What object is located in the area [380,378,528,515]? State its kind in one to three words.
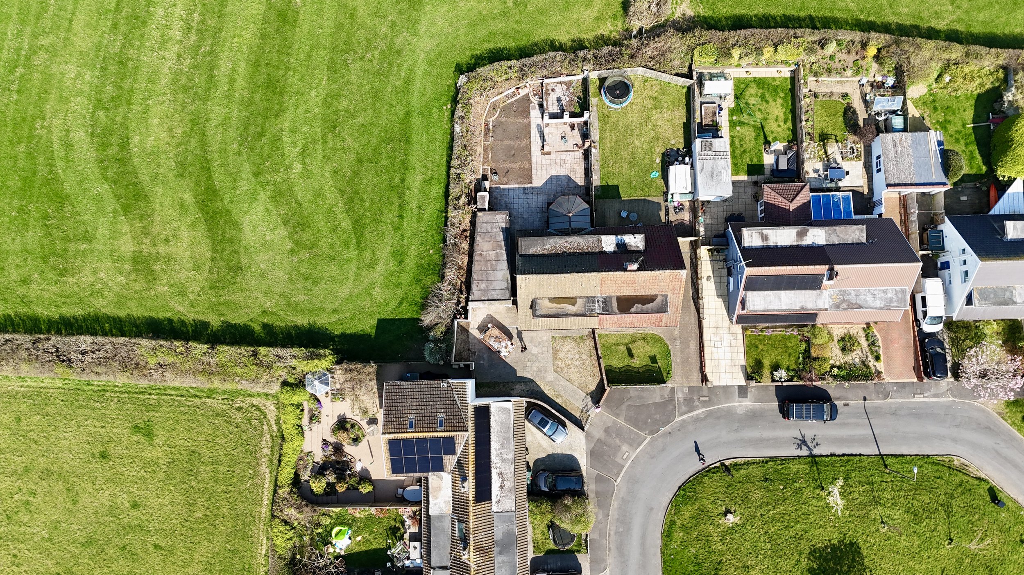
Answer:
house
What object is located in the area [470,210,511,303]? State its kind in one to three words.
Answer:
building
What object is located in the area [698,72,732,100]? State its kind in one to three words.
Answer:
greenhouse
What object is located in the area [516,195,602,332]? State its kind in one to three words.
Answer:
house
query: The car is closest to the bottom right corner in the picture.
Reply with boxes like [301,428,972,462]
[923,337,949,381]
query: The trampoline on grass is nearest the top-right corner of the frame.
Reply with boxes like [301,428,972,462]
[602,73,635,110]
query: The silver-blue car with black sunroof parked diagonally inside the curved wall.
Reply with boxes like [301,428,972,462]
[527,404,572,446]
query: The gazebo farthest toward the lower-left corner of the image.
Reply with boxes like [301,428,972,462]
[306,370,333,396]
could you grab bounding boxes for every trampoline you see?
[550,524,578,552]
[602,73,635,110]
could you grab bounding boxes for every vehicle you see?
[919,277,948,332]
[527,404,572,446]
[923,337,949,381]
[780,399,836,425]
[534,469,586,496]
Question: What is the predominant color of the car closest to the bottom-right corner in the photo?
black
